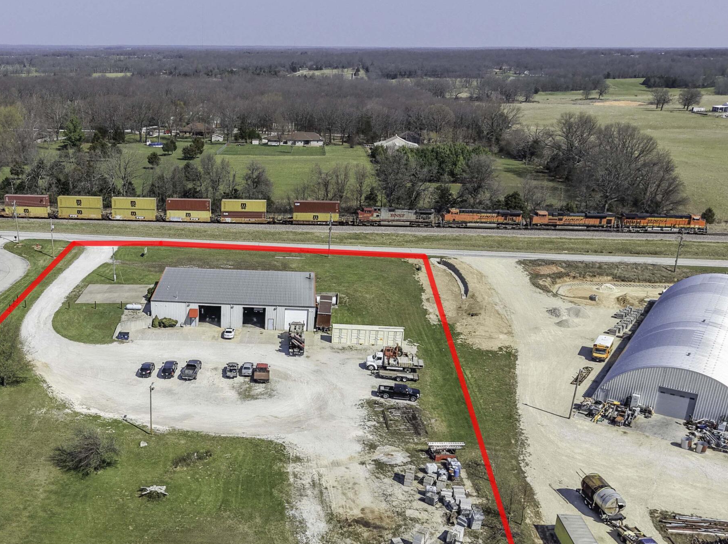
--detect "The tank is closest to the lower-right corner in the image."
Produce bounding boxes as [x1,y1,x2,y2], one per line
[575,461,632,513]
